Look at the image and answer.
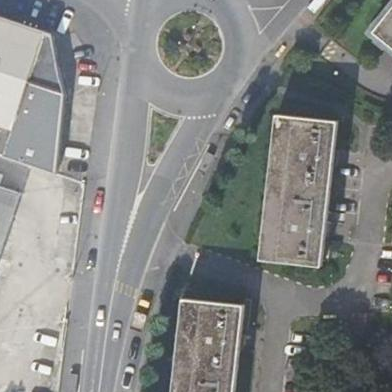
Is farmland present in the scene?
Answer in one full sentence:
No, no farmland is visible.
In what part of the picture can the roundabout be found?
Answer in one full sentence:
The roundabout sits in the top section of the image.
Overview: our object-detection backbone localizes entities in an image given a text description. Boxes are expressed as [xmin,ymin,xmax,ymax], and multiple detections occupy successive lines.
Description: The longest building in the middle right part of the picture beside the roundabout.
[258,111,341,266]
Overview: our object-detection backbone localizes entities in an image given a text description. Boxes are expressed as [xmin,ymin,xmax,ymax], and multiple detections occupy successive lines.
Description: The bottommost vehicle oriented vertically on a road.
[123,365,135,388]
